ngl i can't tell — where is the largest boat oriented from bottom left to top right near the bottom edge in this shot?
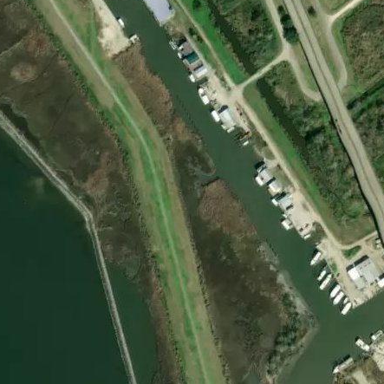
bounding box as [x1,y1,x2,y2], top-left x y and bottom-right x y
[332,357,355,374]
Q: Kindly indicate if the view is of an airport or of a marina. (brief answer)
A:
marina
